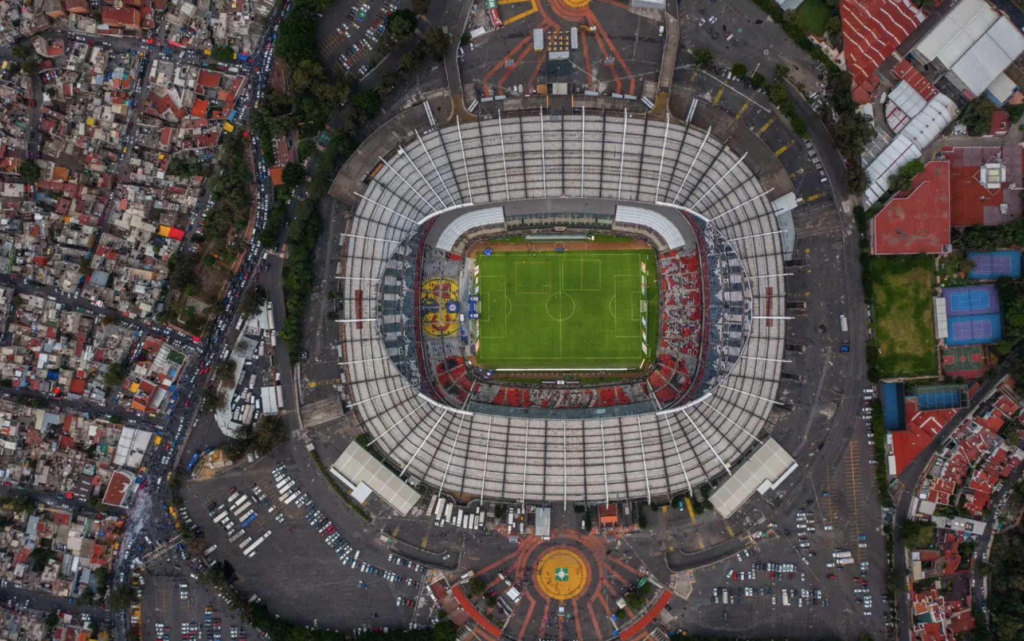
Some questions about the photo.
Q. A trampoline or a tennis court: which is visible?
tennis court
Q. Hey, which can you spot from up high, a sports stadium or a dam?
sports stadium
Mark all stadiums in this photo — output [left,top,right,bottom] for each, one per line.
[330,92,795,511]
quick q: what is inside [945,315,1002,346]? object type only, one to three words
tennis court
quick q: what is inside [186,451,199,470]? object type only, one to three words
vehicle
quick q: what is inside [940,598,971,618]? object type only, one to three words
house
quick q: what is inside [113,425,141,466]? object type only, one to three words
building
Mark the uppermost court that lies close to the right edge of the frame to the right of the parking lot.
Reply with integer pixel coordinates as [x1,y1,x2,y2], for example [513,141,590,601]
[967,251,1021,279]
